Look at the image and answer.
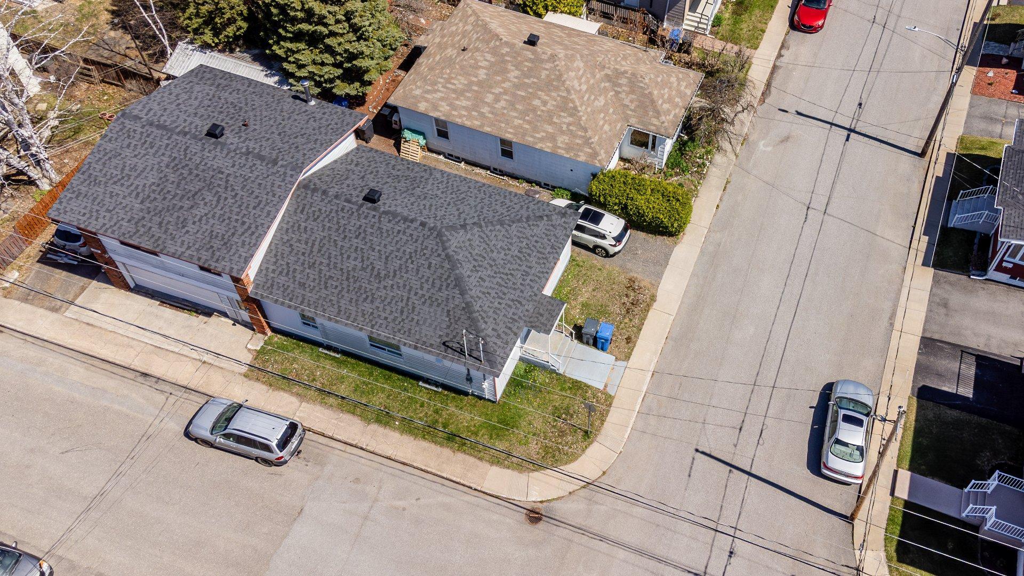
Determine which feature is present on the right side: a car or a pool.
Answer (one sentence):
The one visible on the right side is a car.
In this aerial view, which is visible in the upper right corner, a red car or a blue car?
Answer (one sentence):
What appears in the upper right corner is a red car.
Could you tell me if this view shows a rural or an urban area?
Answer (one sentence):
The area is urban.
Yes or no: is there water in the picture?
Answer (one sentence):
No, water can't be seen anywhere here.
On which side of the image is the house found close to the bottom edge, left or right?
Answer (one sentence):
You can find the house found close to the bottom edge on the right side of the picture.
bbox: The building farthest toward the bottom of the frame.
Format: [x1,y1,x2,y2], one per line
[890,453,1024,576]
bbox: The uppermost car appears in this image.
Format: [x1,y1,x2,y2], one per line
[793,0,839,38]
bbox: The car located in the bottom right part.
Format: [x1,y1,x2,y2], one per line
[815,373,883,486]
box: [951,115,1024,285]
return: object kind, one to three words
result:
house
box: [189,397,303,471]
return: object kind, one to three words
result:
car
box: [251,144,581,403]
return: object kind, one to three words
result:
house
